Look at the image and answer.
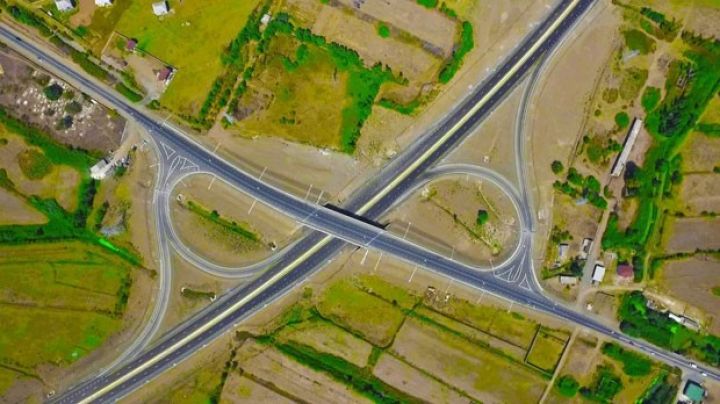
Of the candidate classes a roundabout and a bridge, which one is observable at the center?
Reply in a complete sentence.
Visible at the center is a bridge.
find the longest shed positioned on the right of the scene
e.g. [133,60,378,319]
[610,118,643,177]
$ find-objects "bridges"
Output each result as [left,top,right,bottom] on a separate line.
[292,200,393,254]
